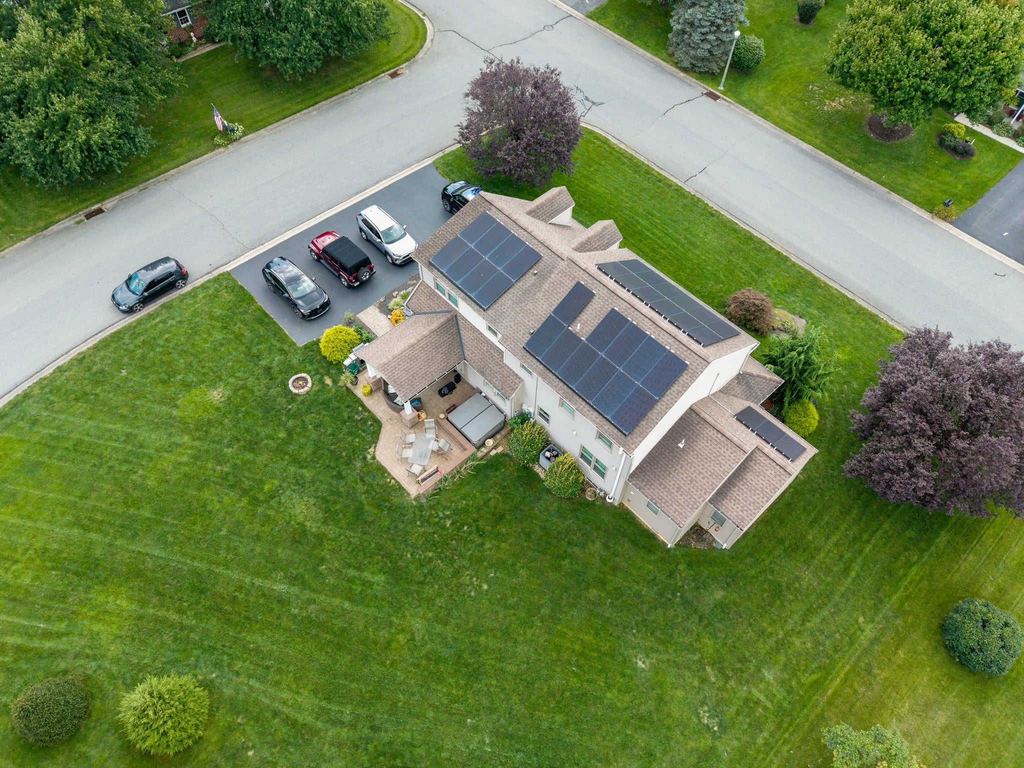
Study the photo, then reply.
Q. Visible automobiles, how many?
five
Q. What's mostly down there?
grass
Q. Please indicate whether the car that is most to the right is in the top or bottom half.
top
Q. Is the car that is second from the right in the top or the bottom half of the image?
top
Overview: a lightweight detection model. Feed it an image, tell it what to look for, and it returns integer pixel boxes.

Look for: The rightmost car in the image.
[440,180,491,214]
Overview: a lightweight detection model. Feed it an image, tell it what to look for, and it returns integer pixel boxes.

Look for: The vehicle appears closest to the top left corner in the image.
[110,256,191,314]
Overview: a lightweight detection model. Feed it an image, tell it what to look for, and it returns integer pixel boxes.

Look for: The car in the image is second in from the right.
[355,205,420,266]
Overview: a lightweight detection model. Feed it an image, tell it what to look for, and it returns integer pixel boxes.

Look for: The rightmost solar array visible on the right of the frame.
[734,405,806,461]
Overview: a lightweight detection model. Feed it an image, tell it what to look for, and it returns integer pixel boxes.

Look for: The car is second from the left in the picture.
[260,258,332,322]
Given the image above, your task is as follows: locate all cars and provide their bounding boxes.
[355,205,420,266]
[260,258,332,322]
[440,180,491,214]
[307,230,378,289]
[110,256,191,314]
